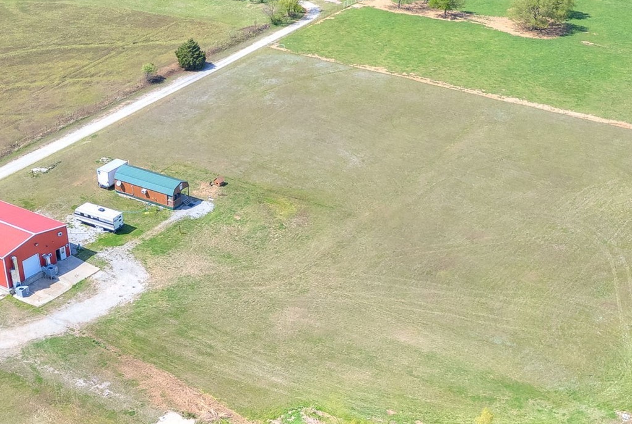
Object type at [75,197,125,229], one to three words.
trailer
